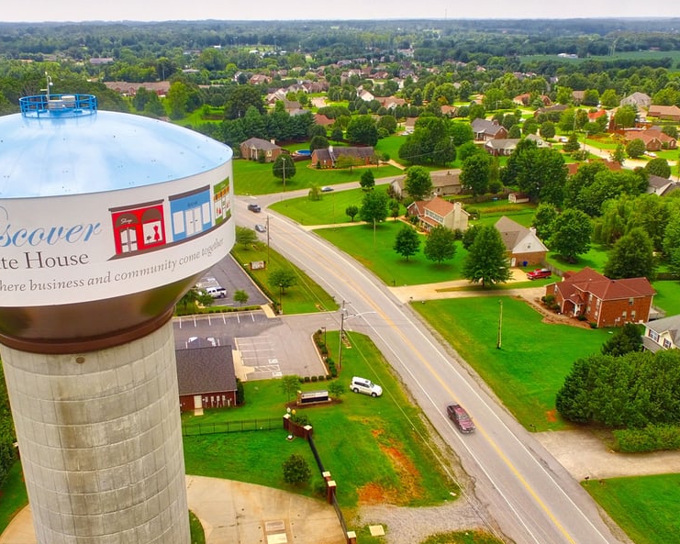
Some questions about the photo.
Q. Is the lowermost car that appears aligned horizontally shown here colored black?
No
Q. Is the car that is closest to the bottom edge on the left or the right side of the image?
right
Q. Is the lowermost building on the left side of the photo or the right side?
left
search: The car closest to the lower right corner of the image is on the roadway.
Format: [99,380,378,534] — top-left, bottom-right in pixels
[448,404,477,434]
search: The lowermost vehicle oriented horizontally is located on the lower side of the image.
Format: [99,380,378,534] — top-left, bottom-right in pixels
[349,375,385,395]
